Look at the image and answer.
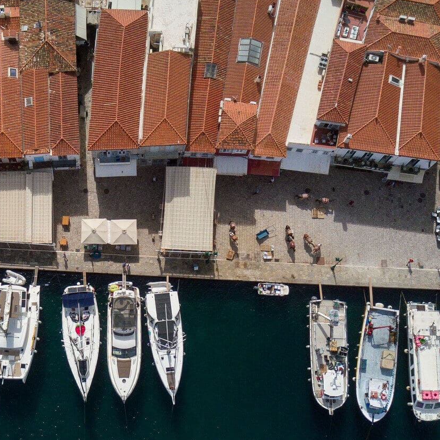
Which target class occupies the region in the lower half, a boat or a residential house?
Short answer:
boat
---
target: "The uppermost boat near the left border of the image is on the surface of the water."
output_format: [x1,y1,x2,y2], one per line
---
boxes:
[4,271,26,286]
